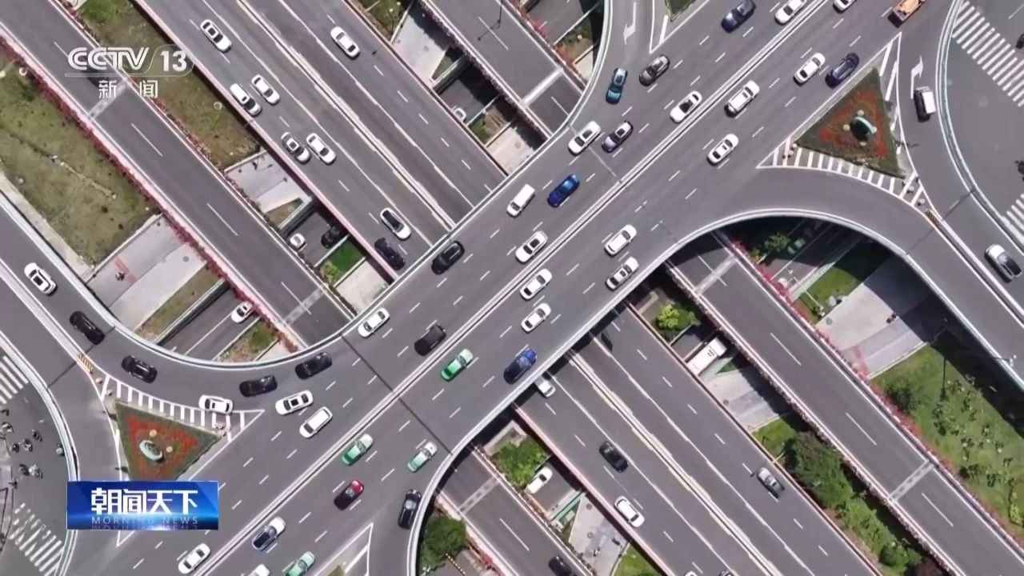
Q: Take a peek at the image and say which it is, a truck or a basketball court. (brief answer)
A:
truck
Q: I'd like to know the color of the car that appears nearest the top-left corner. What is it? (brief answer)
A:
white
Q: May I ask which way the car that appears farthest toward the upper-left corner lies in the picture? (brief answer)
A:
at an angle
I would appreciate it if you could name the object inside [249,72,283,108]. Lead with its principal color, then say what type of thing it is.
white car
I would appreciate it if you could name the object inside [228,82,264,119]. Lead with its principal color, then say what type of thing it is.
white car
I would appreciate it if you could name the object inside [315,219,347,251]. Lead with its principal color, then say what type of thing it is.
black car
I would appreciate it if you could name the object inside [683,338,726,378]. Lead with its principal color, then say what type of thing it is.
white truck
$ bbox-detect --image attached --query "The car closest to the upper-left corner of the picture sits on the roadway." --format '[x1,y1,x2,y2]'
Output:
[199,17,234,54]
